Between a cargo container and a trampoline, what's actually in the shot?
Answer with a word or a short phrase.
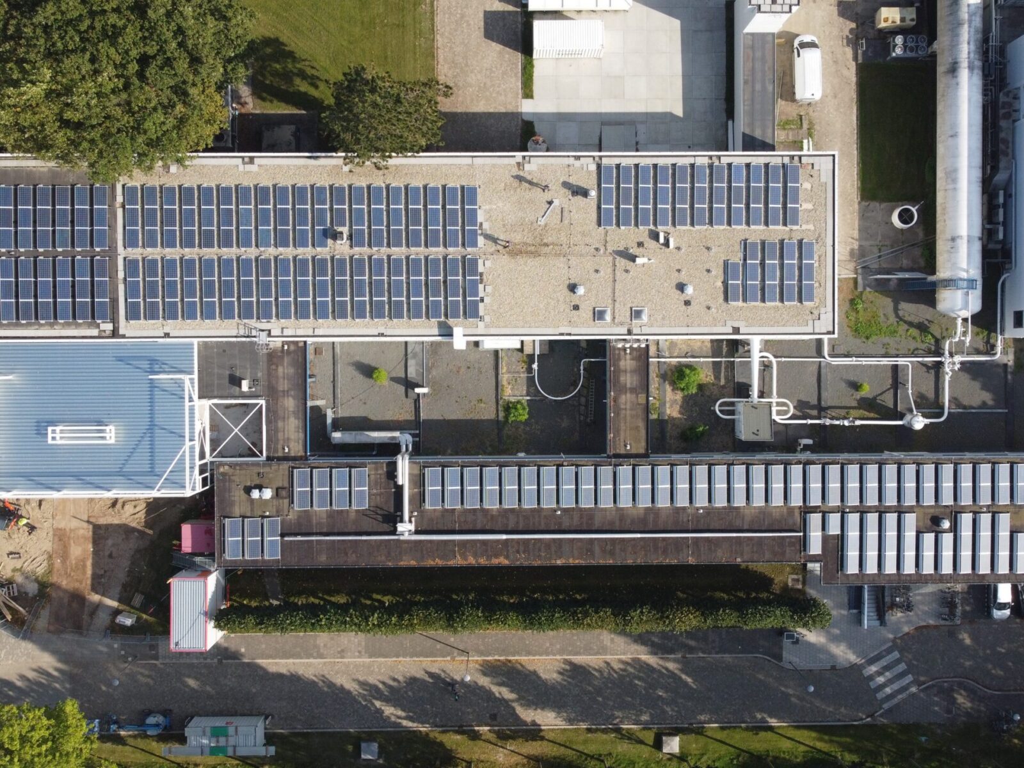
cargo container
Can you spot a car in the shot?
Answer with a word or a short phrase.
Yes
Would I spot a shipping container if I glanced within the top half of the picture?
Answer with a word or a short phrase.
Yes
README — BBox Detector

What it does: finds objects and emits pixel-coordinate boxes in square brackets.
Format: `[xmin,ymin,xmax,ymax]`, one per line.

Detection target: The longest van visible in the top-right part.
[789,42,819,107]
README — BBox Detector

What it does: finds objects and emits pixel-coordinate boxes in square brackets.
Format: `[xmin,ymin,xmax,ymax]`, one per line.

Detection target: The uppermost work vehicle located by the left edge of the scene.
[0,500,21,531]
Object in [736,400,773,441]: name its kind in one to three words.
building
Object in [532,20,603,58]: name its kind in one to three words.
shipping container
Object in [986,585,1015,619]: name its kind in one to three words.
car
